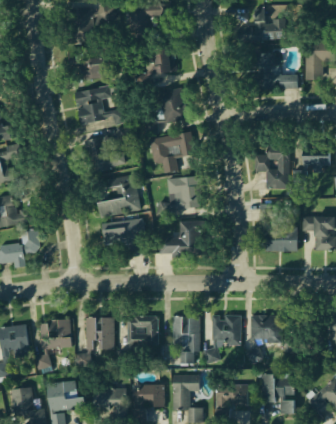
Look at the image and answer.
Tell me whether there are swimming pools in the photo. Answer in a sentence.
Yes, there's a swimming pool down there.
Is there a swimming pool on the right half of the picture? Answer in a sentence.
Yes, on the right half of the picture there is a swimming pool.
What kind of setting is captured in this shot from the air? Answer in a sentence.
The area seen from above is a residential area.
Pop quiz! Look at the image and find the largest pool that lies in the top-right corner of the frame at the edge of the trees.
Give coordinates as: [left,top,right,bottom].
[280,46,302,74]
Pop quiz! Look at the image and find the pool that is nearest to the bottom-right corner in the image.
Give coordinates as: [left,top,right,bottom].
[195,370,214,400]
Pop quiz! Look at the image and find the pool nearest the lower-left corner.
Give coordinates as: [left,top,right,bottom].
[135,370,160,384]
